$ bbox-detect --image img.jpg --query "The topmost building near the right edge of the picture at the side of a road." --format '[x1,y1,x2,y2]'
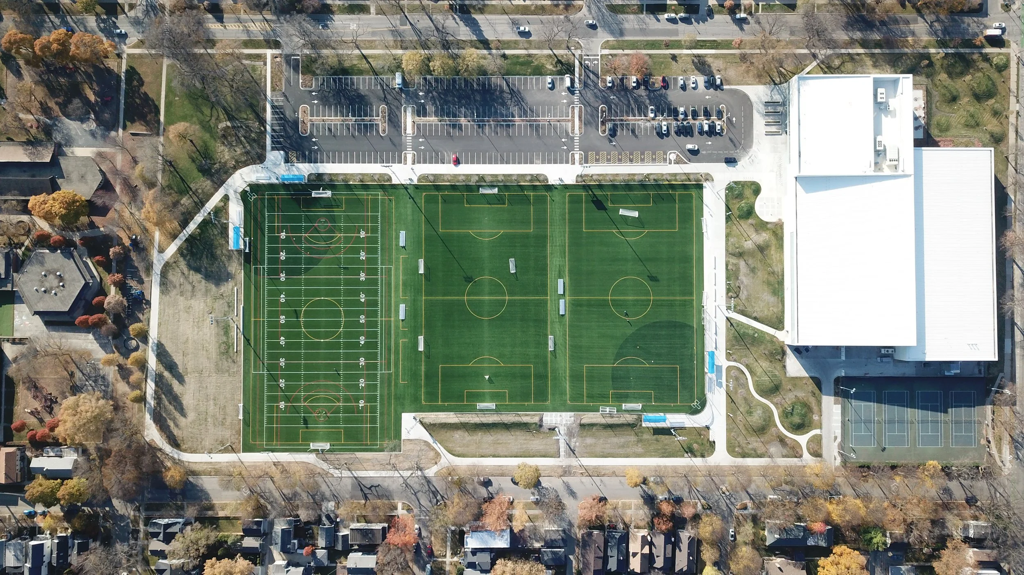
[784,74,999,374]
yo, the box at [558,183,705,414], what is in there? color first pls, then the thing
green soccer field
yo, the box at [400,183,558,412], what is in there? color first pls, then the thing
green soccer field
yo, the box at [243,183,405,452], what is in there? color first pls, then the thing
green sports field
